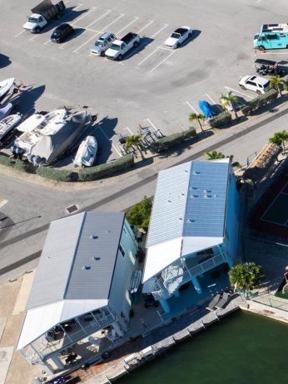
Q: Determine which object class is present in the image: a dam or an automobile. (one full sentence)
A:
The one in the frame is an automobile.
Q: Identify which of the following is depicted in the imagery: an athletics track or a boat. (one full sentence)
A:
It is a boat that can be seen here.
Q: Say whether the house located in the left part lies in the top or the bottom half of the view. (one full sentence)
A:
Seen from above, the house located in the left part lies in the bottom half of the view.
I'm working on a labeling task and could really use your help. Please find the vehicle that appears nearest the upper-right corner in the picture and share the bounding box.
[255,26,288,50]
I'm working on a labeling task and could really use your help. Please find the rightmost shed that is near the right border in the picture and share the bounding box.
[235,143,288,197]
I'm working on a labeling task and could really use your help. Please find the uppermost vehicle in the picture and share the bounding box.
[22,0,72,29]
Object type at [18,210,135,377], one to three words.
house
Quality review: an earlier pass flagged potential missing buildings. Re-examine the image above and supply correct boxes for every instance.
[235,143,288,197]
[142,159,235,319]
[18,210,135,377]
